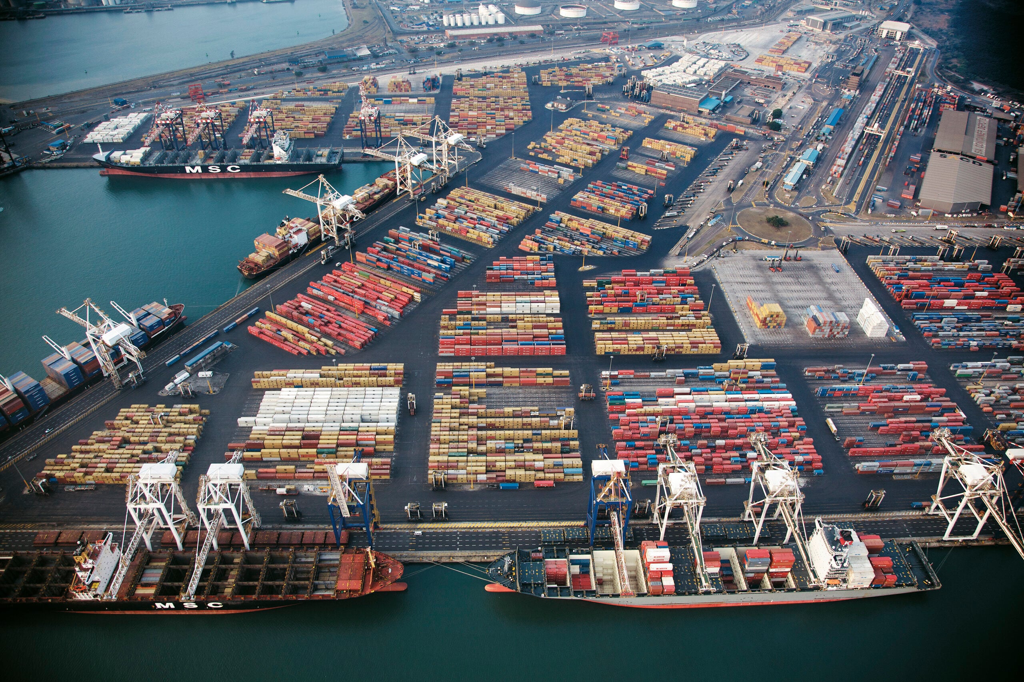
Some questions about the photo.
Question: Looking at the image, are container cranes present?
Yes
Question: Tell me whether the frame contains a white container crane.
Yes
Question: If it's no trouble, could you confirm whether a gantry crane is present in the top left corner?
Yes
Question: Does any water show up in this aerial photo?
Yes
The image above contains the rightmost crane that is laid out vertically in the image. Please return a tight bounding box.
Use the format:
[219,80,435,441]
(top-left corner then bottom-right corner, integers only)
[987,433,1024,532]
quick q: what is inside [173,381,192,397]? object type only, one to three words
work vehicle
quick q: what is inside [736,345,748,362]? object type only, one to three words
vehicle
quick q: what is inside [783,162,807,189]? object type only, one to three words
house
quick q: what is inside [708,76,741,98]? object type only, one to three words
building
